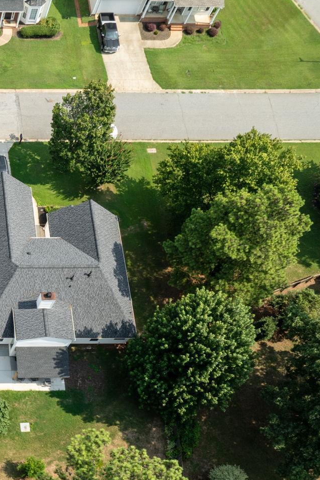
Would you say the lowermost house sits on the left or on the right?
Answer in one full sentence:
The lowermost house appears in the left half of the scene.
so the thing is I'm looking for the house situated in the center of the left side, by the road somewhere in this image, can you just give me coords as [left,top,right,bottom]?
[0,173,136,384]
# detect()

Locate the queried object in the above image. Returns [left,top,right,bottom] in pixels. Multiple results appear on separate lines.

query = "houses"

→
[87,0,225,29]
[0,173,136,384]
[0,0,59,32]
